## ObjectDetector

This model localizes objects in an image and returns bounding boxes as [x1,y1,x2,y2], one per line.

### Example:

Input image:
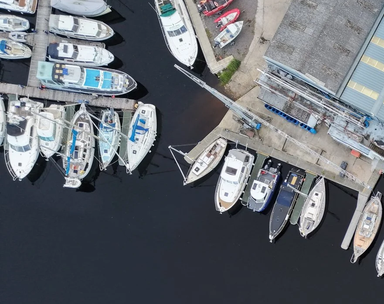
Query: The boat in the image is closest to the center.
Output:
[166,141,230,186]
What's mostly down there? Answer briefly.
water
